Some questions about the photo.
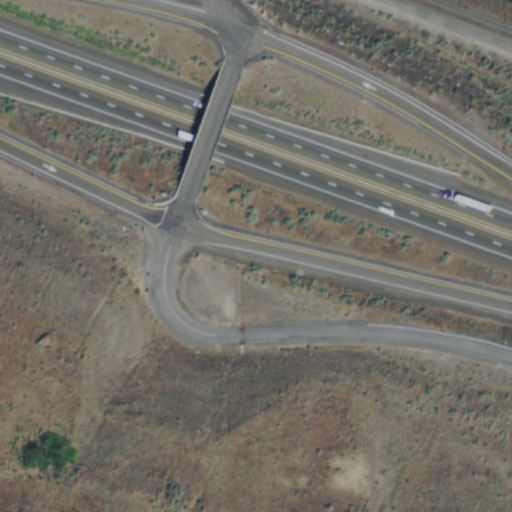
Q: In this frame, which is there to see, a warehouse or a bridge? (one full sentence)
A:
The one in the frame is a bridge.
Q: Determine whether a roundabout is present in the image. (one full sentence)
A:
No, the picture doesn't show any roundabout.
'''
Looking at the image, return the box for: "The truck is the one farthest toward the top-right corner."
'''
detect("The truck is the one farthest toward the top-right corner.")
[440,190,492,212]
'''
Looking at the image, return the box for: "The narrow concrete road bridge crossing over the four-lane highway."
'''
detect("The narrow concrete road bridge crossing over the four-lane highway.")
[178,56,245,200]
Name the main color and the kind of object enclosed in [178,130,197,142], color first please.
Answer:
white vehicle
